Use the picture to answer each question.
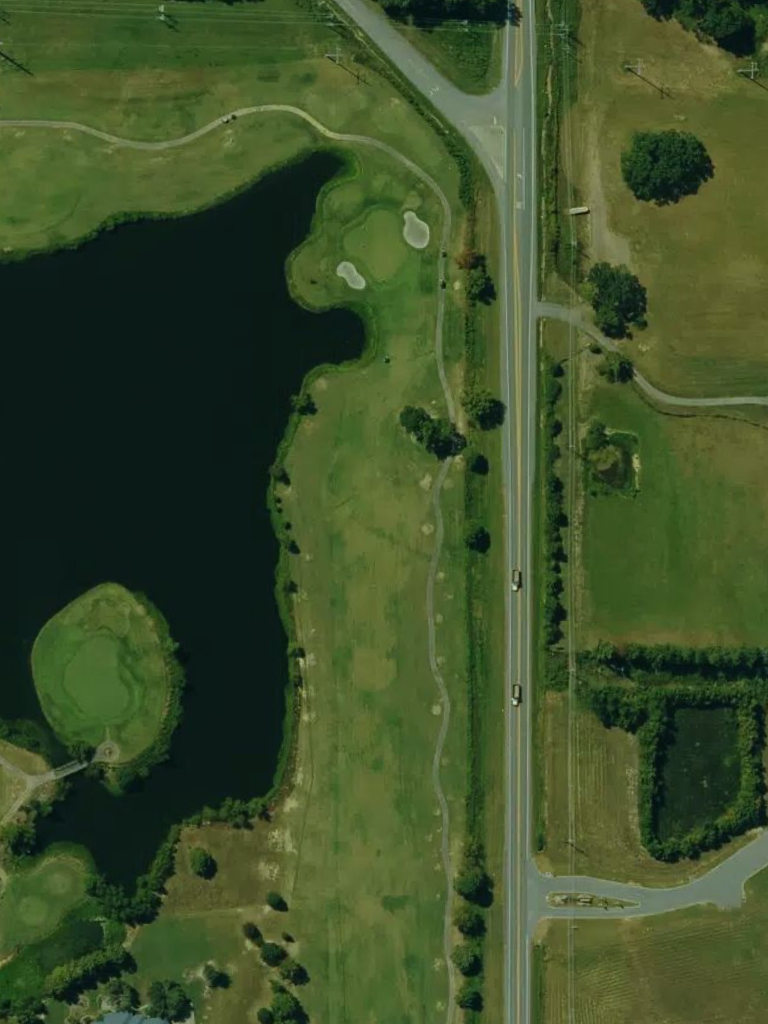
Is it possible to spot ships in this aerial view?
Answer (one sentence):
No, the photo shows no ship.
